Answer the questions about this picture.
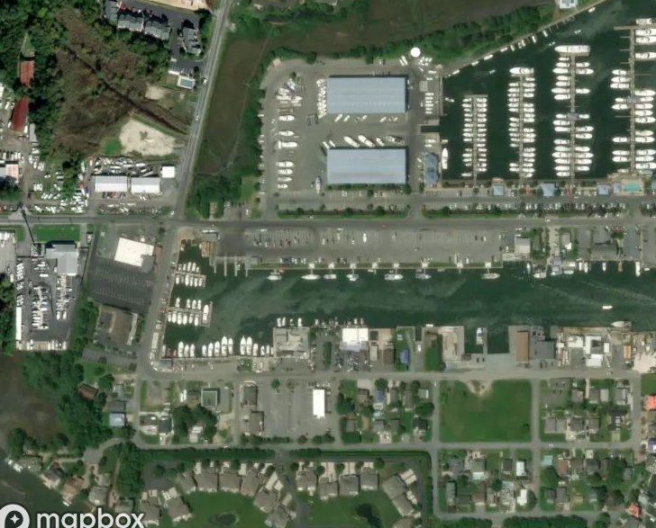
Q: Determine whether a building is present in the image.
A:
Yes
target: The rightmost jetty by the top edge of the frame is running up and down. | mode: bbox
[614,24,656,175]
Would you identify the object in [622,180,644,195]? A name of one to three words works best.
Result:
swimming pool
